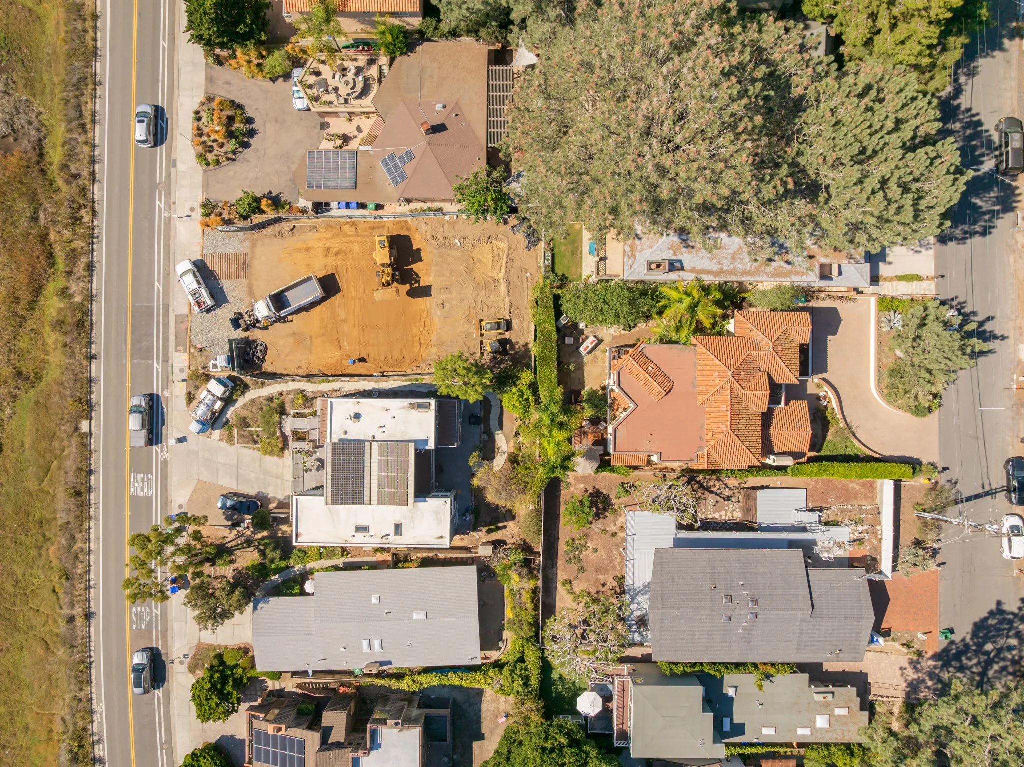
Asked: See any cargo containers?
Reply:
No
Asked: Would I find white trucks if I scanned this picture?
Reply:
Yes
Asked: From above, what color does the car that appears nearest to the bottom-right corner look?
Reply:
white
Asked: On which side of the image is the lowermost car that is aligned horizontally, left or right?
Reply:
left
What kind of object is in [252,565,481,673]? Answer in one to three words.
house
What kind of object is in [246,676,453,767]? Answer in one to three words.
house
